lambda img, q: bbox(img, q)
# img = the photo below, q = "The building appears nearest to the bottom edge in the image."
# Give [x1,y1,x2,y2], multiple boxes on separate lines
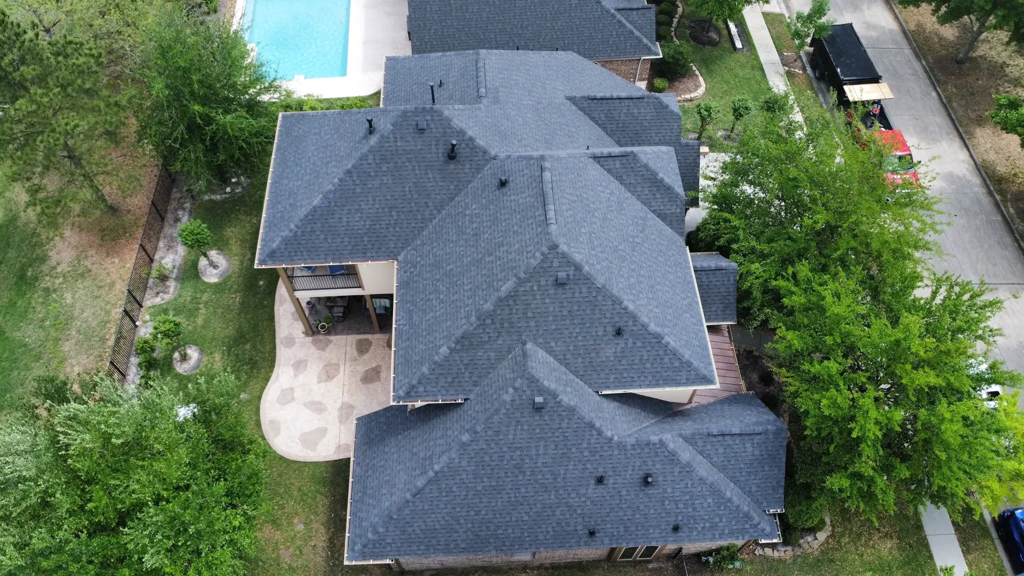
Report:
[253,50,787,571]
